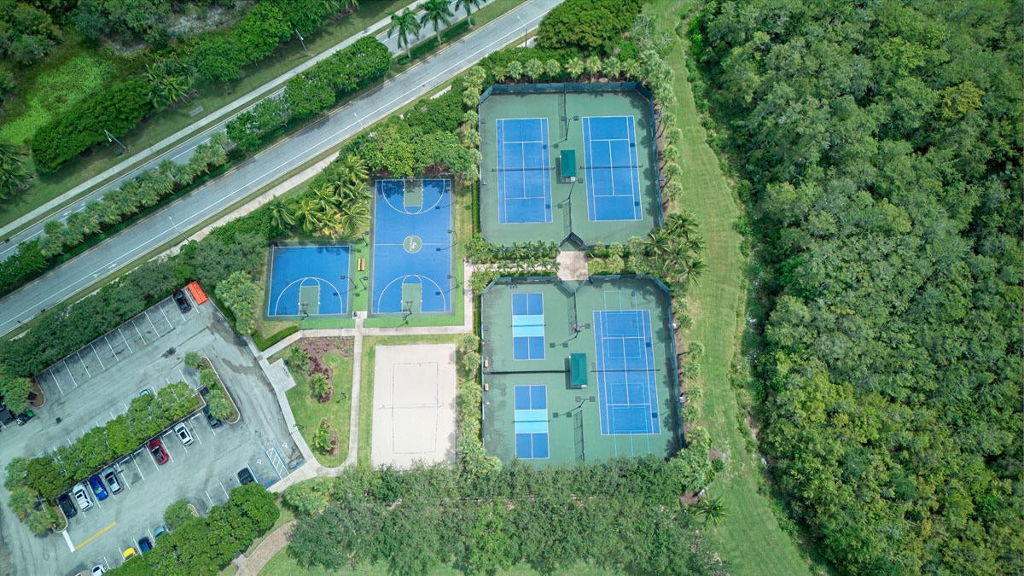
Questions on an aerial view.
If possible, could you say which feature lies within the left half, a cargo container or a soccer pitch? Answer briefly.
cargo container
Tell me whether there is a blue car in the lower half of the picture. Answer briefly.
Yes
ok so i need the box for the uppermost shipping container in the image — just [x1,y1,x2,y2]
[187,281,213,308]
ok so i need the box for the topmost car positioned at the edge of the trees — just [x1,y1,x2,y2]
[173,291,192,314]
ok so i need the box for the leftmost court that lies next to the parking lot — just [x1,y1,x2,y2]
[263,242,355,321]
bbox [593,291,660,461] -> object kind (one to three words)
tennis court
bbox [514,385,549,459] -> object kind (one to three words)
sports court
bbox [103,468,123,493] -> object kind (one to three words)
car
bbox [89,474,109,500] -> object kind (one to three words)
car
